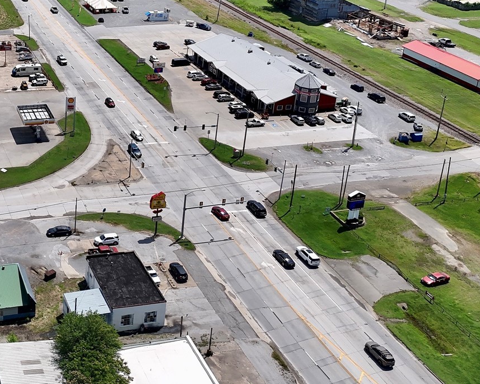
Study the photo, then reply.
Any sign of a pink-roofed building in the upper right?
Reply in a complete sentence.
Yes, looking in the upper right, one can make out a pink-roofed building.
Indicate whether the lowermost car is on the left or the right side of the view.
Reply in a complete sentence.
It is on the right.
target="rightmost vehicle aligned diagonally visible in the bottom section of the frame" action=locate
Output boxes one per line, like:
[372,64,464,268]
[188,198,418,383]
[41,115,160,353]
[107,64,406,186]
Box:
[362,337,399,368]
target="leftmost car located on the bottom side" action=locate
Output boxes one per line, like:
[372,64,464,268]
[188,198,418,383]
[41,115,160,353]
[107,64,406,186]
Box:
[46,226,74,239]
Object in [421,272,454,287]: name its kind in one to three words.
car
